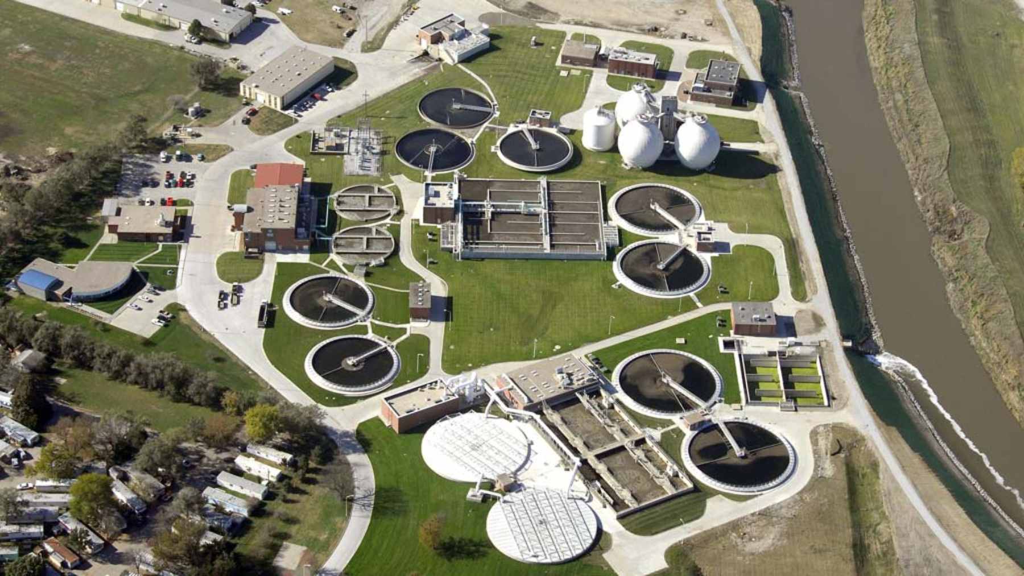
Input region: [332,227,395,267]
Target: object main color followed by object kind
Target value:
gray storage tank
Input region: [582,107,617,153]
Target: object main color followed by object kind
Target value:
white storage tank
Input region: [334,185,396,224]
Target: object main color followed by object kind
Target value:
gray storage tank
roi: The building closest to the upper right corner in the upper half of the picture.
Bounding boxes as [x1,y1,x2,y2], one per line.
[690,60,744,106]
